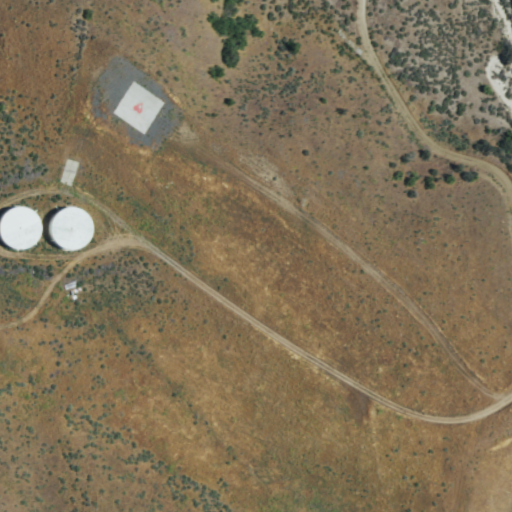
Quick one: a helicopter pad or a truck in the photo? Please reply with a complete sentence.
The one in the frame is a helicopter pad.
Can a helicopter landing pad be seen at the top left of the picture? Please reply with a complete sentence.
Yes, a helicopter landing pad appears at the top left of the picture.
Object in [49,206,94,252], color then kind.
white storage tank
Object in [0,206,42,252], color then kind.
white storage tank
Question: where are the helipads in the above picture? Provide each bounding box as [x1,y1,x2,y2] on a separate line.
[90,56,181,149]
